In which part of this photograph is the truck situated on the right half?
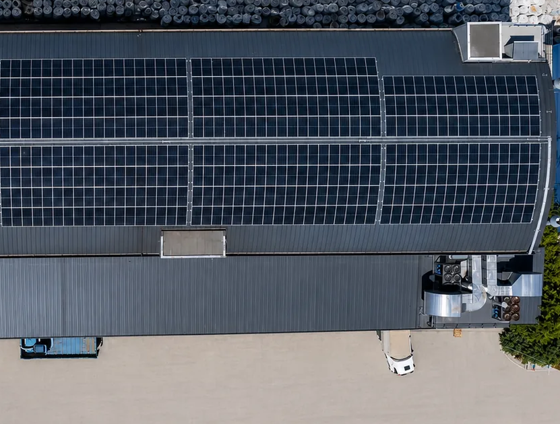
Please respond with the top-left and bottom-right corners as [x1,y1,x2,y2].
[387,331,416,376]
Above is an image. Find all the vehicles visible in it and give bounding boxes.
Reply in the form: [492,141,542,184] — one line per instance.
[20,338,97,359]
[387,331,416,376]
